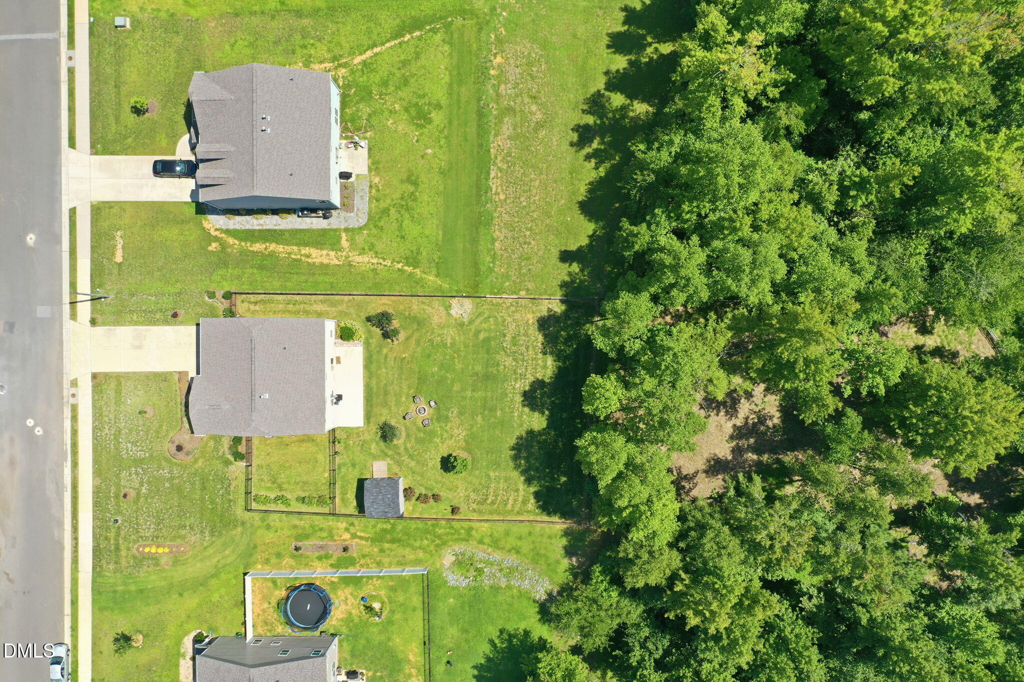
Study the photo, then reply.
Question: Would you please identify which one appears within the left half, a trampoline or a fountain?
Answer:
trampoline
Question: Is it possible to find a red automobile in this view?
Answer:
No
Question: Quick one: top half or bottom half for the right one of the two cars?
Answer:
top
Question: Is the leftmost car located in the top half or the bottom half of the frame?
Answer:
bottom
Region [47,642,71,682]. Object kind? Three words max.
car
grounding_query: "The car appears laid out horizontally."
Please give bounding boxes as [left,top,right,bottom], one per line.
[152,157,199,179]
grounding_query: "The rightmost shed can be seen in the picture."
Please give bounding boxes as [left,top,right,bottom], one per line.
[363,476,402,516]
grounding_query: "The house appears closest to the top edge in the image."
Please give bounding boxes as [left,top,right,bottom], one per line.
[189,63,343,208]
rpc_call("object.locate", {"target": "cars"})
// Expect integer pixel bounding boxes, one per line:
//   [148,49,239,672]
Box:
[152,157,199,179]
[47,642,71,682]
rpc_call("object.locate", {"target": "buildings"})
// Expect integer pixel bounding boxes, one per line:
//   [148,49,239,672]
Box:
[363,476,402,516]
[194,636,341,682]
[188,317,339,437]
[189,63,343,208]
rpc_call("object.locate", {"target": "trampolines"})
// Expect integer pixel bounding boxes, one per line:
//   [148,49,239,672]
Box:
[280,585,330,636]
